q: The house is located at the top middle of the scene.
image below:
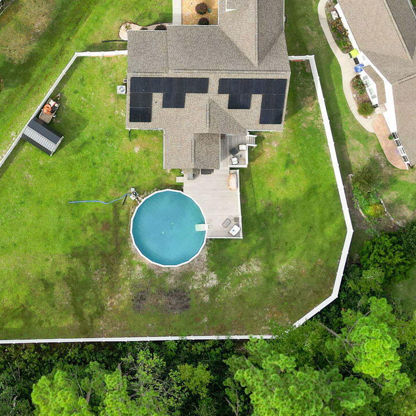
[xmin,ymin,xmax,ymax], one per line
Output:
[127,0,291,169]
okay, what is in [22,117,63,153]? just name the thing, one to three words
shed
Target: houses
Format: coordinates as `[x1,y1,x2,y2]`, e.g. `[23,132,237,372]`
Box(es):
[334,0,416,167]
[127,0,291,169]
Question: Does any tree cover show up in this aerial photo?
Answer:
Yes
